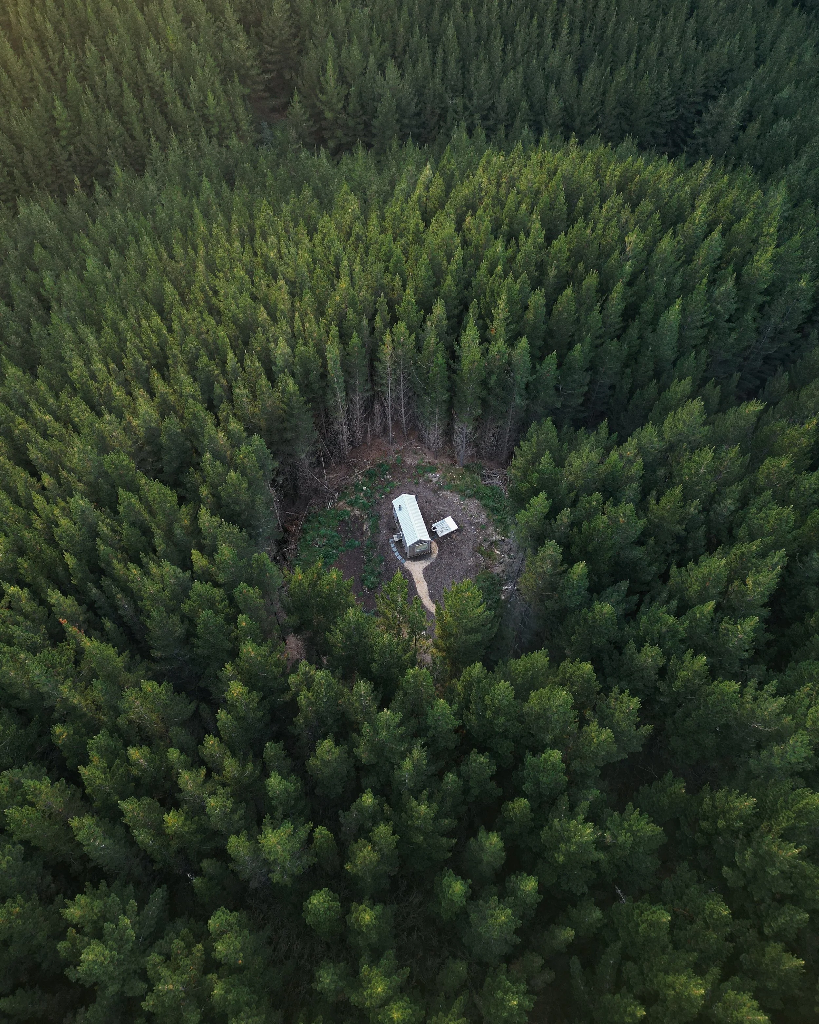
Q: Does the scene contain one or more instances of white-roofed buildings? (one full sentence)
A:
Yes, the picture does show a white-roofed building.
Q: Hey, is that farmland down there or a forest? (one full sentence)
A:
This looks like a forest.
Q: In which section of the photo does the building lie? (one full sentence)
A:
Look in the center portion of the view to spot the building.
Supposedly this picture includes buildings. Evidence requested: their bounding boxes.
[389,491,433,558]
